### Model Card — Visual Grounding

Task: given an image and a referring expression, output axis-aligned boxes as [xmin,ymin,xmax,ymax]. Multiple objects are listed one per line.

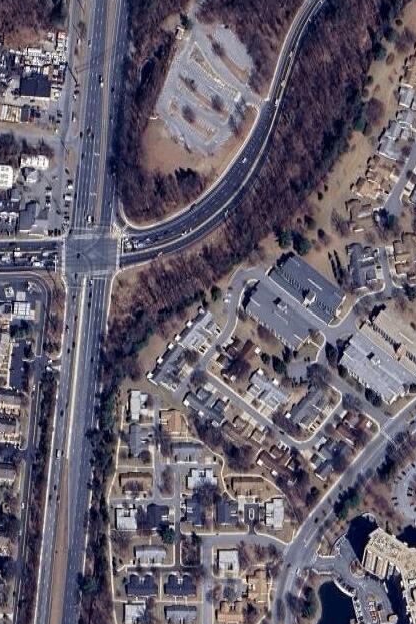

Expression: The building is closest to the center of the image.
[177,308,215,350]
